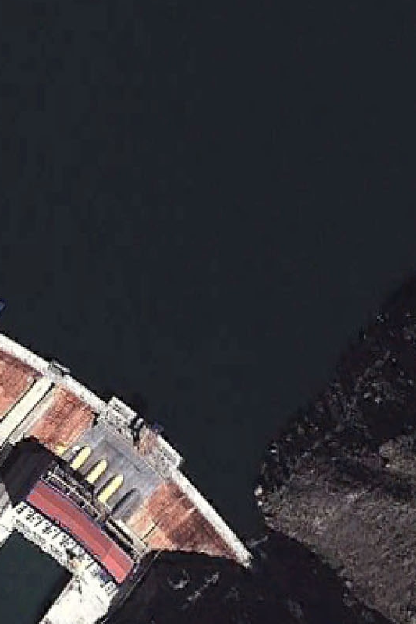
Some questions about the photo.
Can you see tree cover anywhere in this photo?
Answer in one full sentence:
No, there is no tree cover in the image.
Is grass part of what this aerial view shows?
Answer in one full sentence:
No, no grass is visible.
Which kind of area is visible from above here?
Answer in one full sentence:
What you see here is a port.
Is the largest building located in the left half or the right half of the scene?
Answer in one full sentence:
The largest building sits on the left side.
